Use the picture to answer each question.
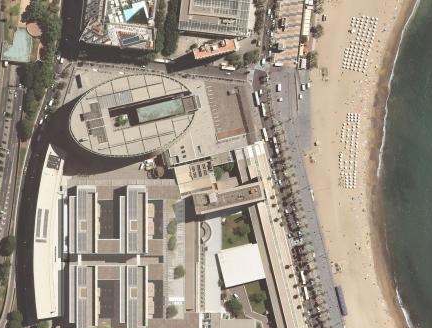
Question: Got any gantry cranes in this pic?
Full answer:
No, I can't see a single gantry crane in this photo.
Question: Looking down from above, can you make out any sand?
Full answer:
Yes, there's sand in this view.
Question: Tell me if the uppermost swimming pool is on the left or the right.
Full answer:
The uppermost swimming pool is on the left side of the image.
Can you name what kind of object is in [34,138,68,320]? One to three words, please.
building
